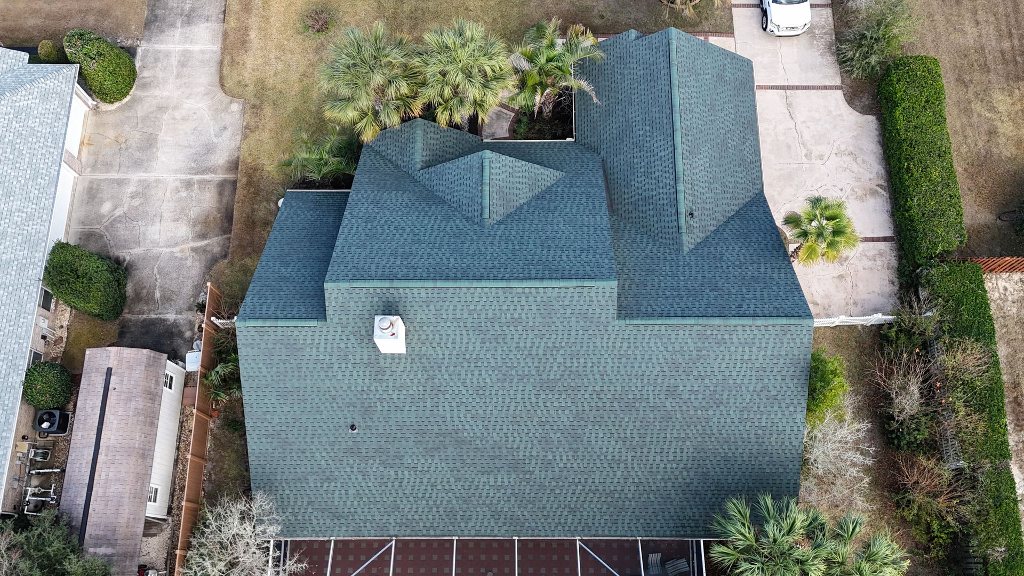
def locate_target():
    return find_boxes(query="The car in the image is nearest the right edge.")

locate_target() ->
[758,0,808,38]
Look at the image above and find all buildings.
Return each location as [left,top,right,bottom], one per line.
[50,347,184,576]
[0,48,96,517]
[237,29,814,543]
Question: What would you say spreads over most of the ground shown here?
buildings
